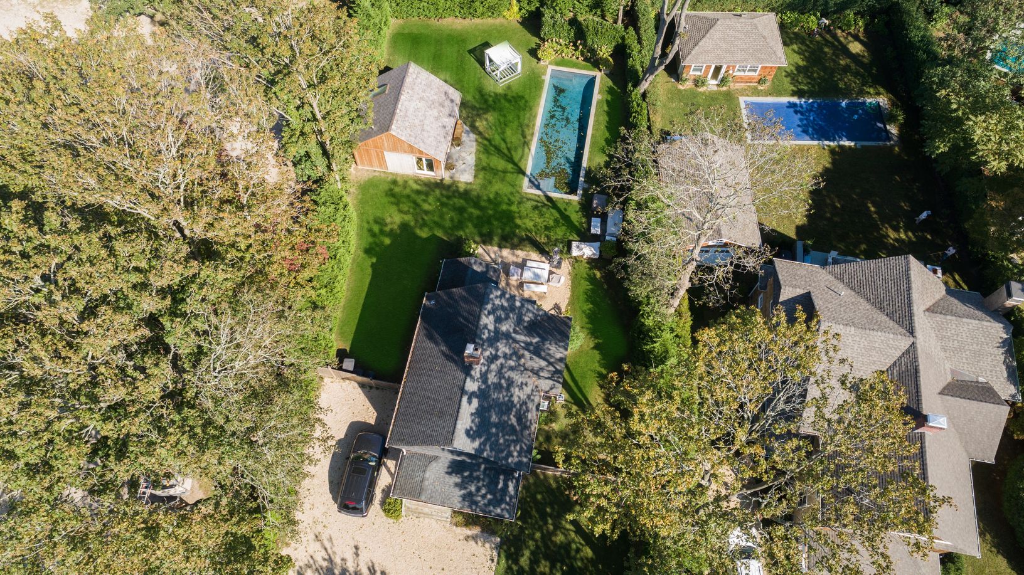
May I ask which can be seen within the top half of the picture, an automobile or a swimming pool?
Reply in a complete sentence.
You can see a swimming pool within the top half of the picture.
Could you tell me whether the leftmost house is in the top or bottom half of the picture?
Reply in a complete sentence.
The top half of the photo is where the leftmost house is.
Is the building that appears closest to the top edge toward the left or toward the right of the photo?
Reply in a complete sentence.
It is on the right.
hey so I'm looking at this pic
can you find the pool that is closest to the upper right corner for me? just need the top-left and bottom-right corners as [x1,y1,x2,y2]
[988,37,1024,70]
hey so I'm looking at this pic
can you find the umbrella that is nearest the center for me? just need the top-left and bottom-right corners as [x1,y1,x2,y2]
[549,253,563,275]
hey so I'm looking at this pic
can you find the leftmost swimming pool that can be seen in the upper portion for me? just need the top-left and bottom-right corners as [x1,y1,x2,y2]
[523,65,601,199]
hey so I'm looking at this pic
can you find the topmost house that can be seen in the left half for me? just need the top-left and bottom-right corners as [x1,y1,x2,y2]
[353,61,463,178]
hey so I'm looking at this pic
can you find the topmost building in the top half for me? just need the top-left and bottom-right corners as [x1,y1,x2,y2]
[675,11,787,94]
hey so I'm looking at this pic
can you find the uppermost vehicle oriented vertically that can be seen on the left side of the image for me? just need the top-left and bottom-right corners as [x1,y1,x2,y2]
[339,433,387,521]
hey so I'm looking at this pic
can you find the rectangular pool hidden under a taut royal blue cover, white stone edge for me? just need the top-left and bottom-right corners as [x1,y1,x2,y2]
[739,96,899,145]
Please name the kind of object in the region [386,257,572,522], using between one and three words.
house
